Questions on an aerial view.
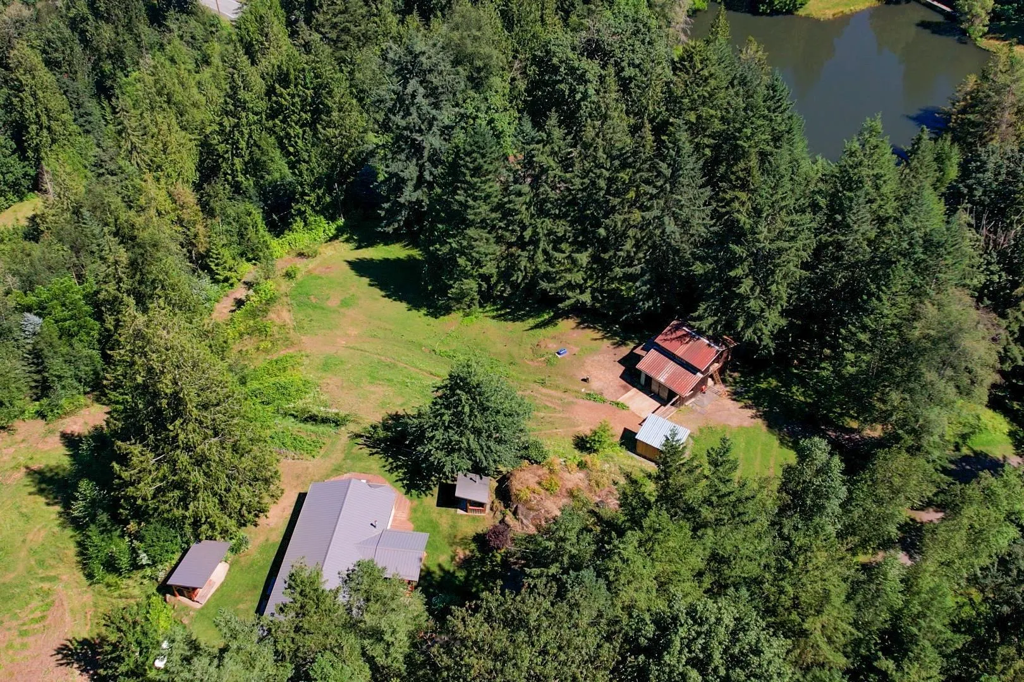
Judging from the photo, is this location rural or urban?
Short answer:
rural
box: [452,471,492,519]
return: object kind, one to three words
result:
building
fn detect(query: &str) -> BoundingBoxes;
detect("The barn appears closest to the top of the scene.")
[635,317,736,411]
